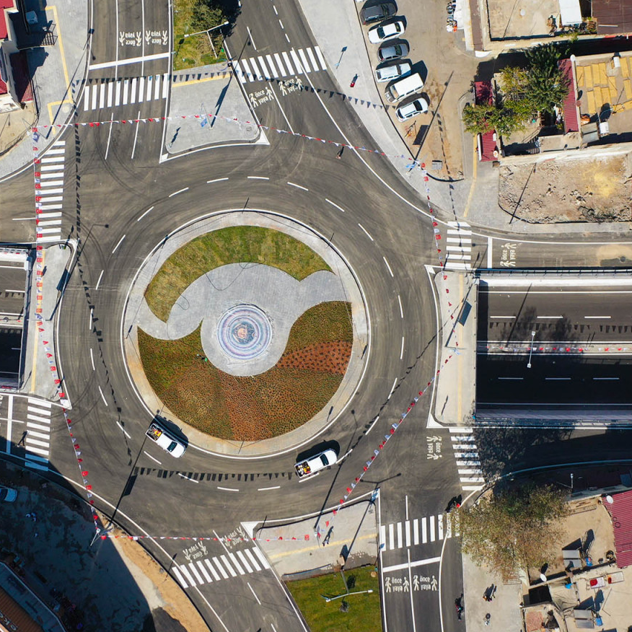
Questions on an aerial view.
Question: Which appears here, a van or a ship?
van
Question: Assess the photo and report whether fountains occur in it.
Yes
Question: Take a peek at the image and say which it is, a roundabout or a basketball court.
roundabout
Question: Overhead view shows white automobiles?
Yes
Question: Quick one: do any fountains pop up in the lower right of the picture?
No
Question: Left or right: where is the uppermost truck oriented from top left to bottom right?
left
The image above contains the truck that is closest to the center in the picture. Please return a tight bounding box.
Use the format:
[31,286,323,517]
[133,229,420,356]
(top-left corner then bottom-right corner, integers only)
[294,448,338,478]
